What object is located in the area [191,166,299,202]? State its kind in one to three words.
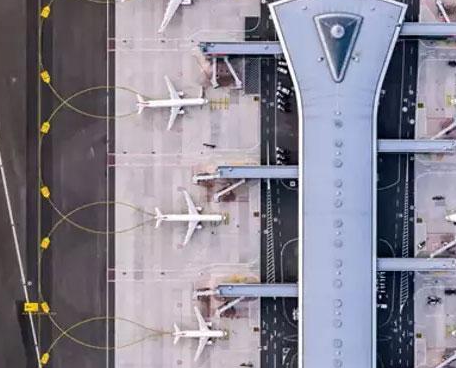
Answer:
jet bridge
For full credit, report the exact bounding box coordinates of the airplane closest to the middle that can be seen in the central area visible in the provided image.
[155,189,226,246]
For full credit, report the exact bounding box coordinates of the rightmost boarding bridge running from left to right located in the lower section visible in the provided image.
[377,236,456,271]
